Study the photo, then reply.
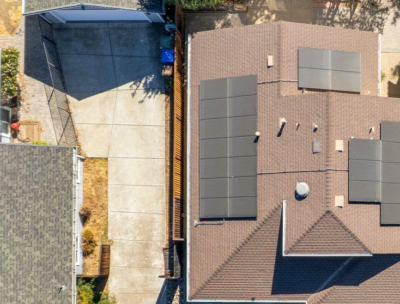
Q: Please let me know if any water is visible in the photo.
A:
No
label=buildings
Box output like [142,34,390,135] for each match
[20,0,168,25]
[184,20,400,304]
[0,45,85,304]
